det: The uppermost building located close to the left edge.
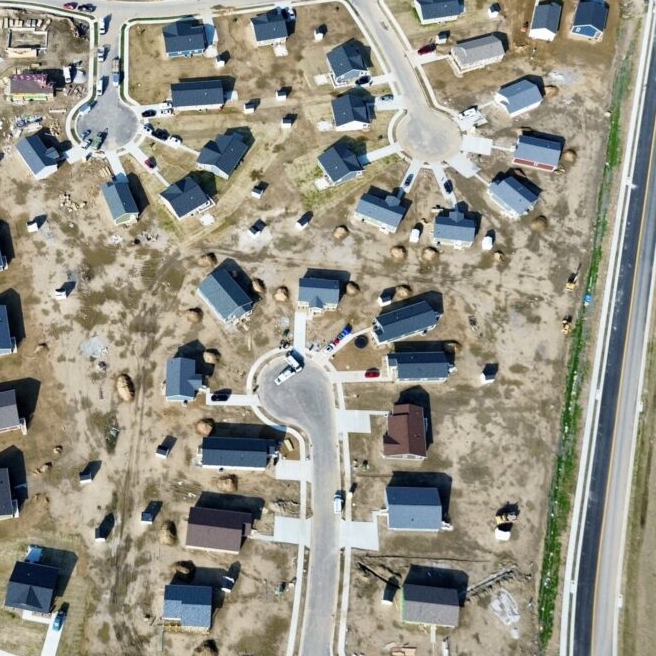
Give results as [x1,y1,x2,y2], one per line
[8,68,52,99]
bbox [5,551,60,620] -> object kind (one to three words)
house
